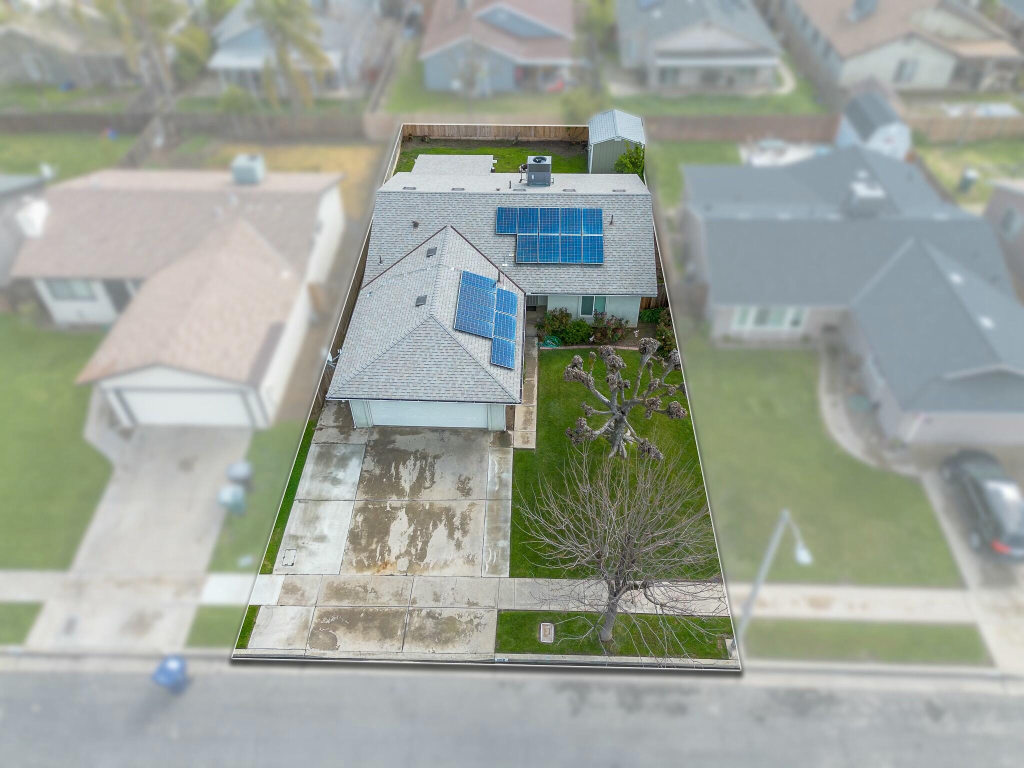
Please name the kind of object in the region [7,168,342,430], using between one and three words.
house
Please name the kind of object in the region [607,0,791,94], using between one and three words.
house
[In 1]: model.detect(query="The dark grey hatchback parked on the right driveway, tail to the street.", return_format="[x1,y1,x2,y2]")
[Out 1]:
[935,451,1024,552]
